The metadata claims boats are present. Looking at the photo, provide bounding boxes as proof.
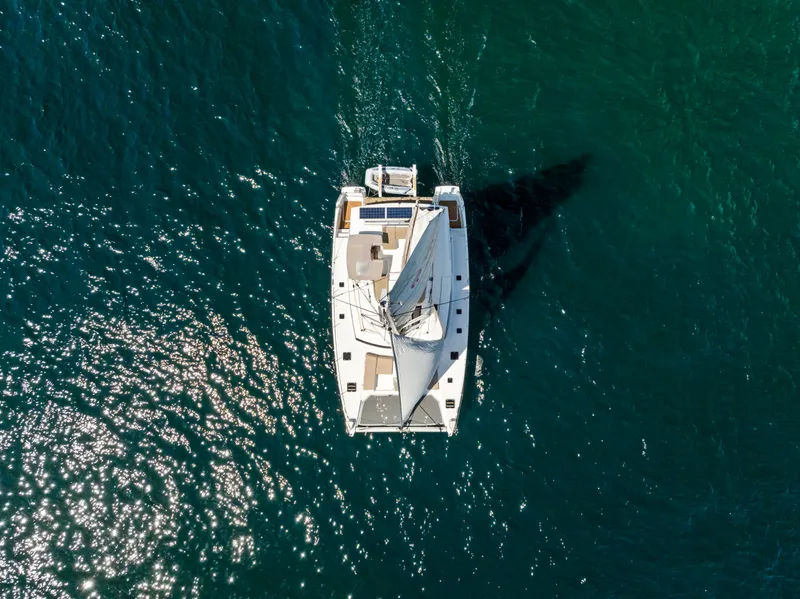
[365,166,413,196]
[330,165,470,434]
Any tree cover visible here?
No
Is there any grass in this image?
No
